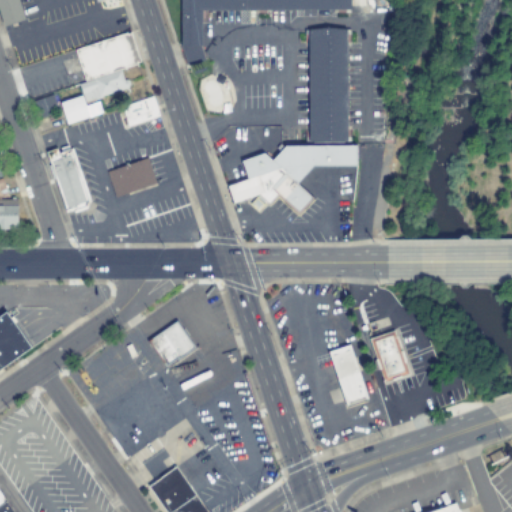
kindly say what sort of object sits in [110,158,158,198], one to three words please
building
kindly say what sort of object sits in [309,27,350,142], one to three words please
building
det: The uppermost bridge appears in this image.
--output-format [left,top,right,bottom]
[389,234,512,289]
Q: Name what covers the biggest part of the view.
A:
paved ground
